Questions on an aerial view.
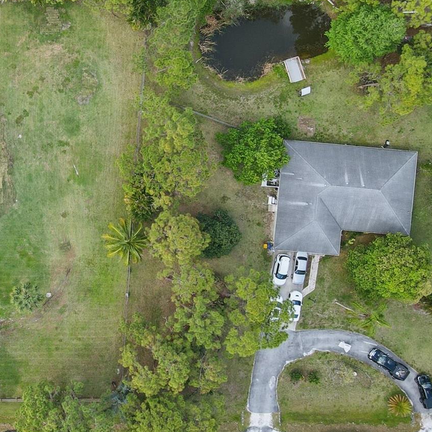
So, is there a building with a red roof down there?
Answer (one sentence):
No, there isn't any building with a red roof down there.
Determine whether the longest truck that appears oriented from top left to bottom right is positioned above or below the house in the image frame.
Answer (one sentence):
Looking at the scene, the longest truck that appears oriented from top left to bottom right is located below the house.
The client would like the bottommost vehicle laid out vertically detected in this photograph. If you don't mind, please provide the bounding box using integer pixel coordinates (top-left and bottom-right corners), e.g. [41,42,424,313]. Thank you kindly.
[416,373,432,411]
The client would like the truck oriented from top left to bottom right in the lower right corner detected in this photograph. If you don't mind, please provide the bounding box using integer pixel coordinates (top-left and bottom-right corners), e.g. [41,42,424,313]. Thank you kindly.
[366,348,411,381]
